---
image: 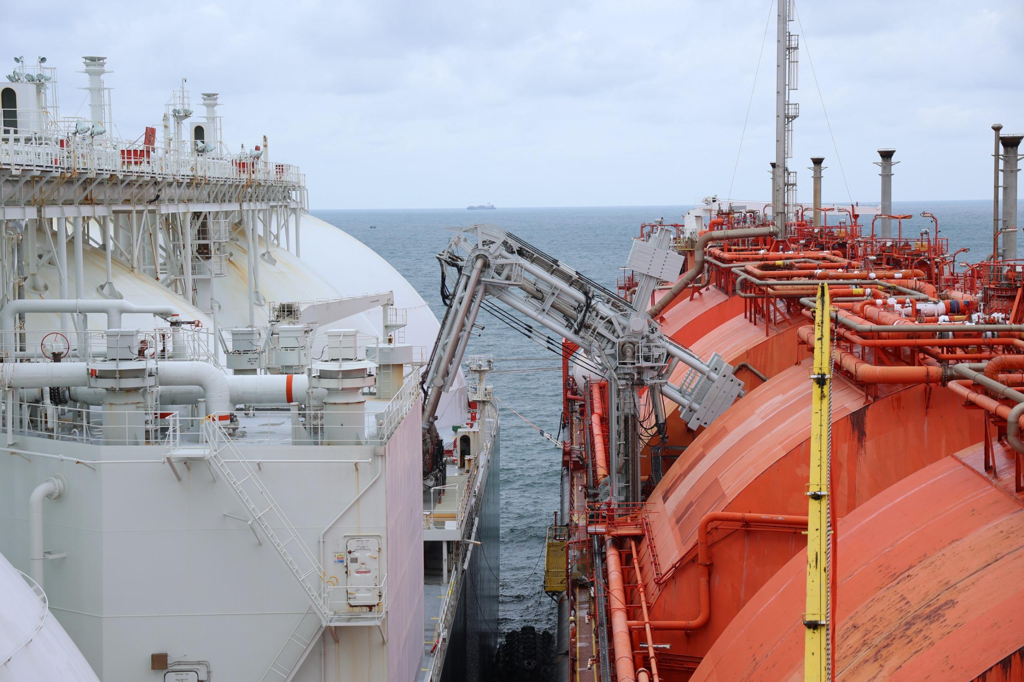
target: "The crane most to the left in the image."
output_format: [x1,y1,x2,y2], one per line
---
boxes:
[267,287,395,374]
